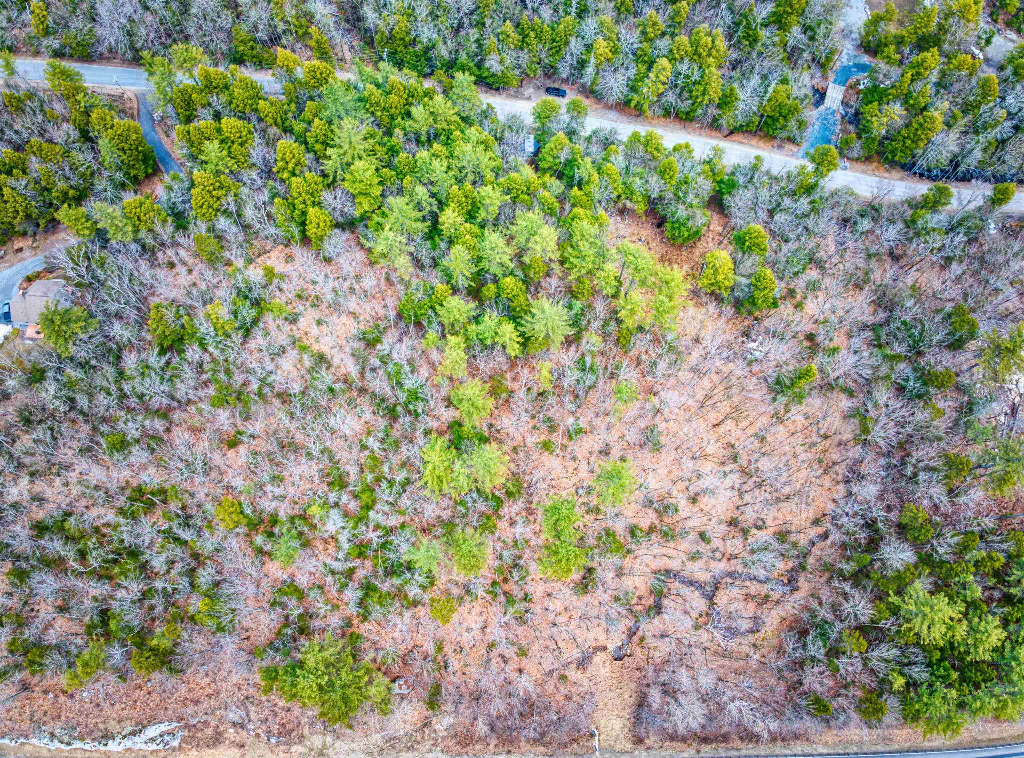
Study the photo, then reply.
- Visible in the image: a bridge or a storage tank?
bridge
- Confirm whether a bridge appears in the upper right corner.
Yes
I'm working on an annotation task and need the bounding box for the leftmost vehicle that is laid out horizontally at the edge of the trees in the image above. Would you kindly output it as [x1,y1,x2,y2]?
[544,85,568,99]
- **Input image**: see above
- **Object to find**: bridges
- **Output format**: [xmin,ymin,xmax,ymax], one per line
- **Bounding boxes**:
[811,78,846,117]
